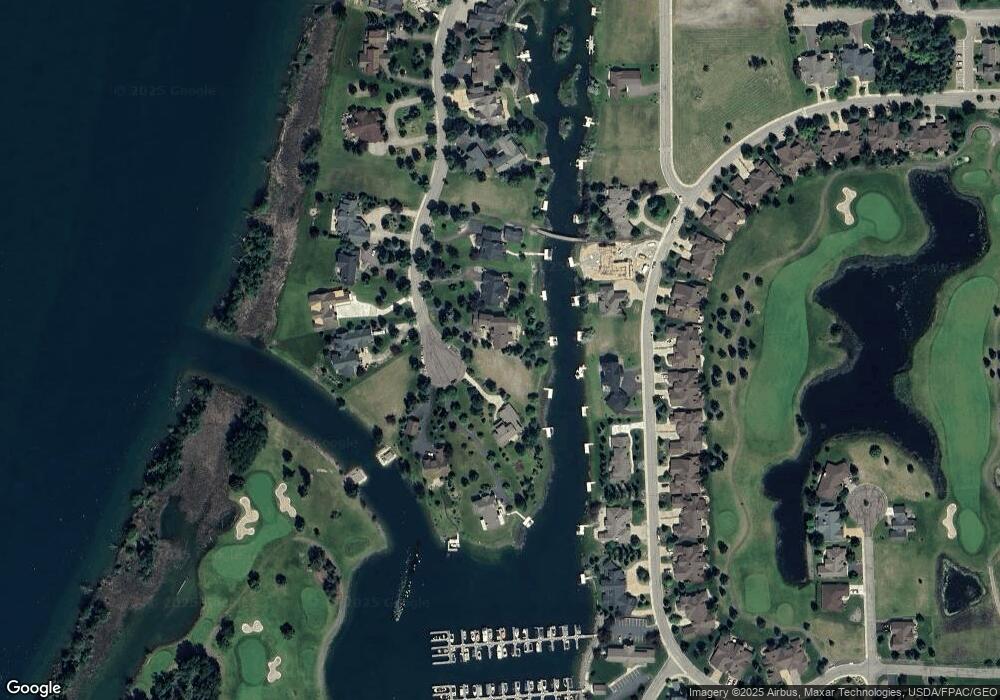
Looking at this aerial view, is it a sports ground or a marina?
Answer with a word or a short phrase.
marina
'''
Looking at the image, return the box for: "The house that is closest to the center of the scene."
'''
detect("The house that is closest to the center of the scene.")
[471,313,521,348]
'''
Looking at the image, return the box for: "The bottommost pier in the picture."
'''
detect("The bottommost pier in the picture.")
[433,678,588,700]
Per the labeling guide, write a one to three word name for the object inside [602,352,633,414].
house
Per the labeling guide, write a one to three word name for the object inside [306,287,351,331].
house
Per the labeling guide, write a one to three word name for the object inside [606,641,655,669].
building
